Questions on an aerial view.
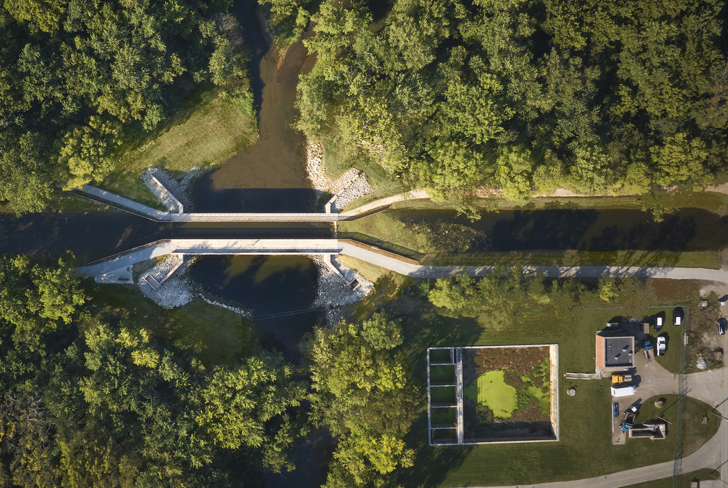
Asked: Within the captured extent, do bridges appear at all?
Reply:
Yes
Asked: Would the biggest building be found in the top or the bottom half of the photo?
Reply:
bottom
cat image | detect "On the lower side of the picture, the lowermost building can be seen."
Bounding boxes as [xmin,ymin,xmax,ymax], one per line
[595,334,634,371]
